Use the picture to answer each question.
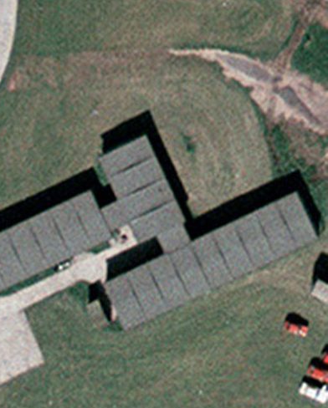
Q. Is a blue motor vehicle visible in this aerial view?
No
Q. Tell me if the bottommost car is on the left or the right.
right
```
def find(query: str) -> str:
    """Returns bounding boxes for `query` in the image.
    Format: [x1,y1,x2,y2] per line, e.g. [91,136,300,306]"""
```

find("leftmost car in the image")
[283,317,308,334]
